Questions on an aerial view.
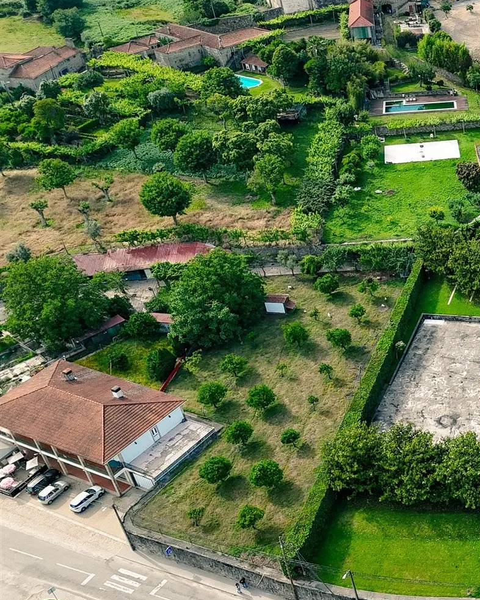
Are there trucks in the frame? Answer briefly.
No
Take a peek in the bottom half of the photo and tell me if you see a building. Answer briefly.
Yes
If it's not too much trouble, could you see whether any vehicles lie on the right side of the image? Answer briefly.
No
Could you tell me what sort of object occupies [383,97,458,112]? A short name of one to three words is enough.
swimming pool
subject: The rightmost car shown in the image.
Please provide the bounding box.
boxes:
[62,482,107,514]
